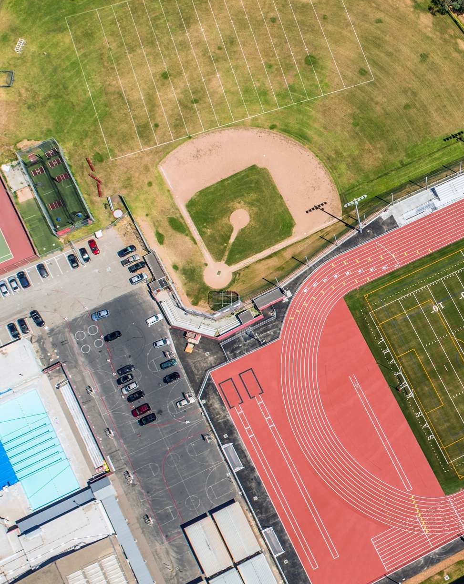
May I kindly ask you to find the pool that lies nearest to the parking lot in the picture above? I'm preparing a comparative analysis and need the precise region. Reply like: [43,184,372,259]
[0,389,81,512]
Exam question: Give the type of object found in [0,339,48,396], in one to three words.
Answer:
building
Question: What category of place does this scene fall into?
sports ground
